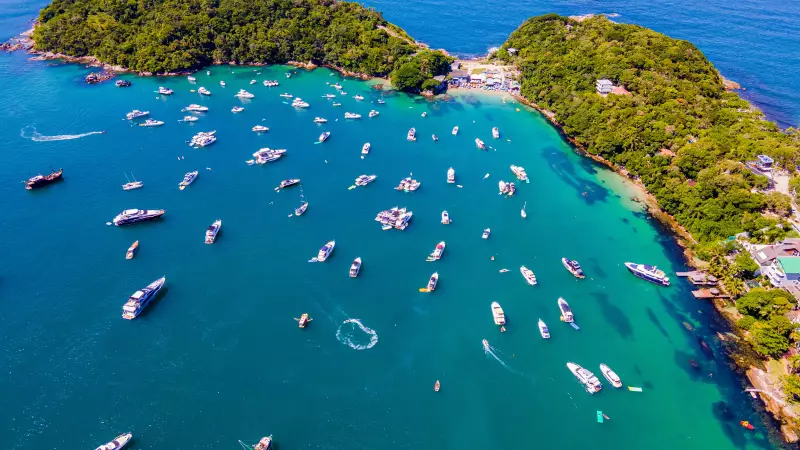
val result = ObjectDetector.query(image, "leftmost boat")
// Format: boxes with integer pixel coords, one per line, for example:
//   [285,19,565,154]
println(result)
[27,163,61,187]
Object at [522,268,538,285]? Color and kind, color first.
white boat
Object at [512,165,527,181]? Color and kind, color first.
white boat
